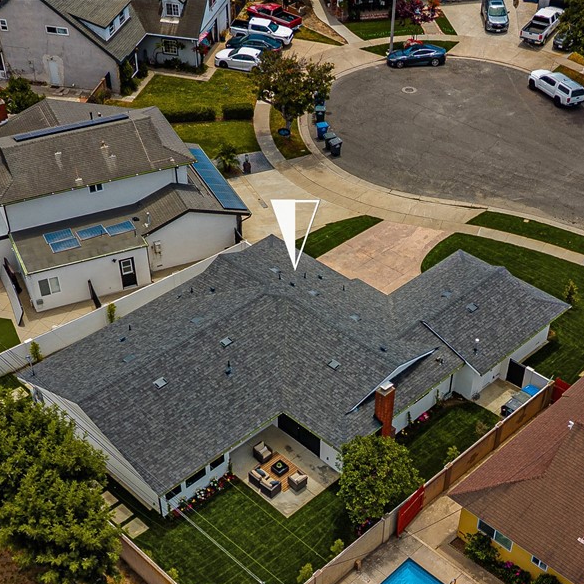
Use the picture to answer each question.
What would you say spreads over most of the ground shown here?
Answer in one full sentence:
The bulk of the photo consists of buildings.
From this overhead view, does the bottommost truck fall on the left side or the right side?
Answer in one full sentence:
It is on the right.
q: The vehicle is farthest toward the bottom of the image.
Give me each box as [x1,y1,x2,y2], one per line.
[529,69,584,104]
